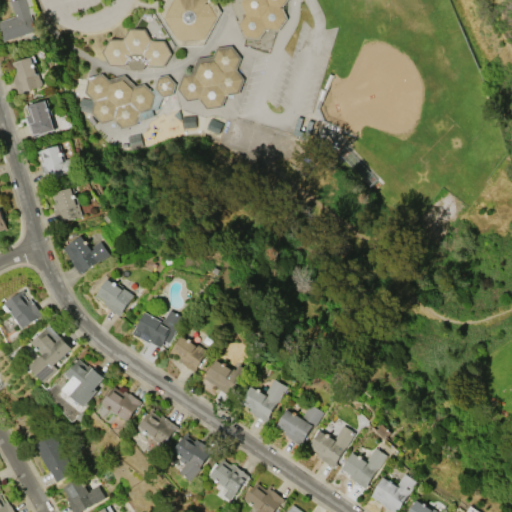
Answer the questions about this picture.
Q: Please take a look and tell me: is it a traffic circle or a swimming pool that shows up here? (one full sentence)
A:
This aerial view contains a swimming pool.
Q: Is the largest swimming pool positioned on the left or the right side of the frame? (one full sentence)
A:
It is on the left.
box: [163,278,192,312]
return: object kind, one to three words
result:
swimming pool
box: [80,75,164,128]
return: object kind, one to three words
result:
building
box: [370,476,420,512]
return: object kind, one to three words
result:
house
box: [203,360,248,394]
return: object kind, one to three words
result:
house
